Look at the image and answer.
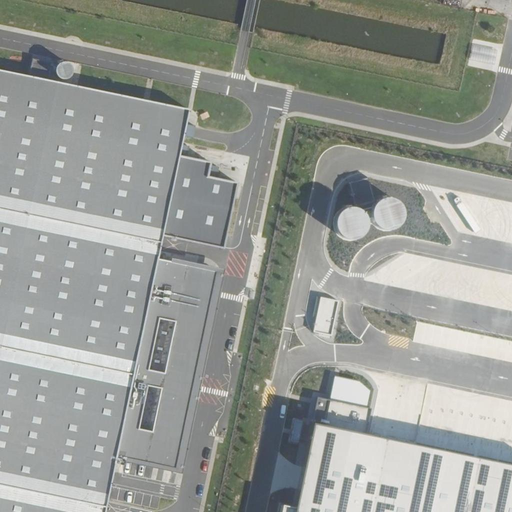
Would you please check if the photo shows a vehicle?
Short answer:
Yes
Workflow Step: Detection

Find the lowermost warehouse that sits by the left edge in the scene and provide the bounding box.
[0,70,188,512]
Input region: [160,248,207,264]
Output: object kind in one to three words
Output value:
building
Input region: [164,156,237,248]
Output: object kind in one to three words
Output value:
building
